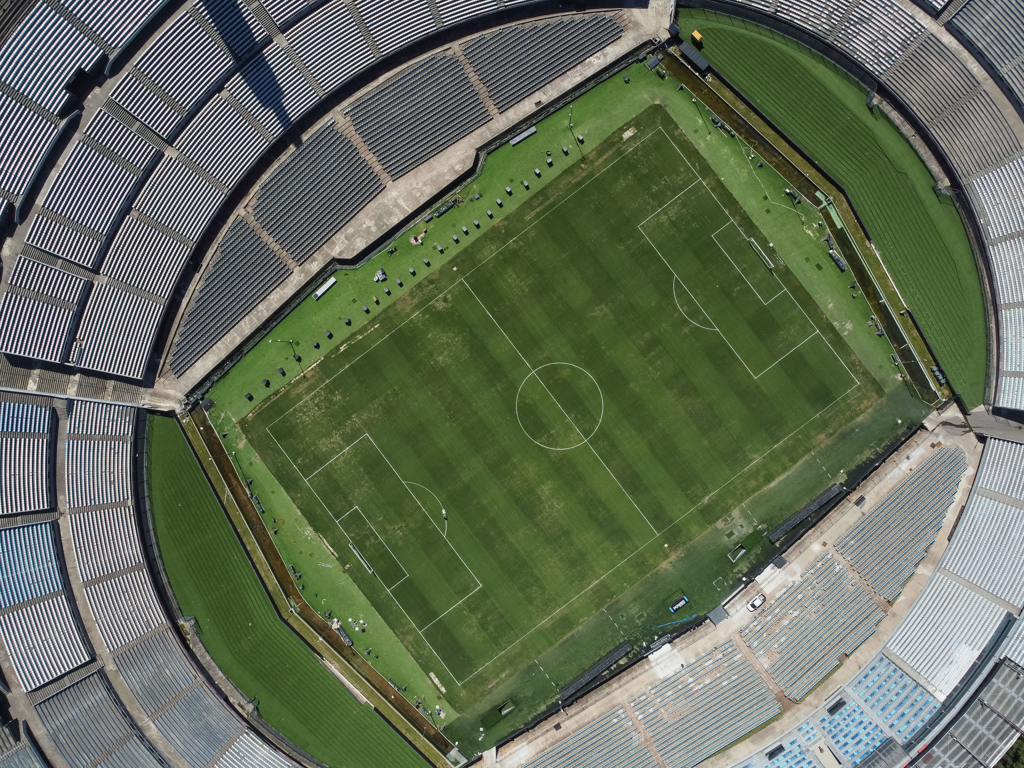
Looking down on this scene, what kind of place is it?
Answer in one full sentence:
The area seen from above is a sports ground.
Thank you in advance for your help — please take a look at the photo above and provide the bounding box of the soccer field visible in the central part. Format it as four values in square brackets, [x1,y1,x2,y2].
[237,104,886,714]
